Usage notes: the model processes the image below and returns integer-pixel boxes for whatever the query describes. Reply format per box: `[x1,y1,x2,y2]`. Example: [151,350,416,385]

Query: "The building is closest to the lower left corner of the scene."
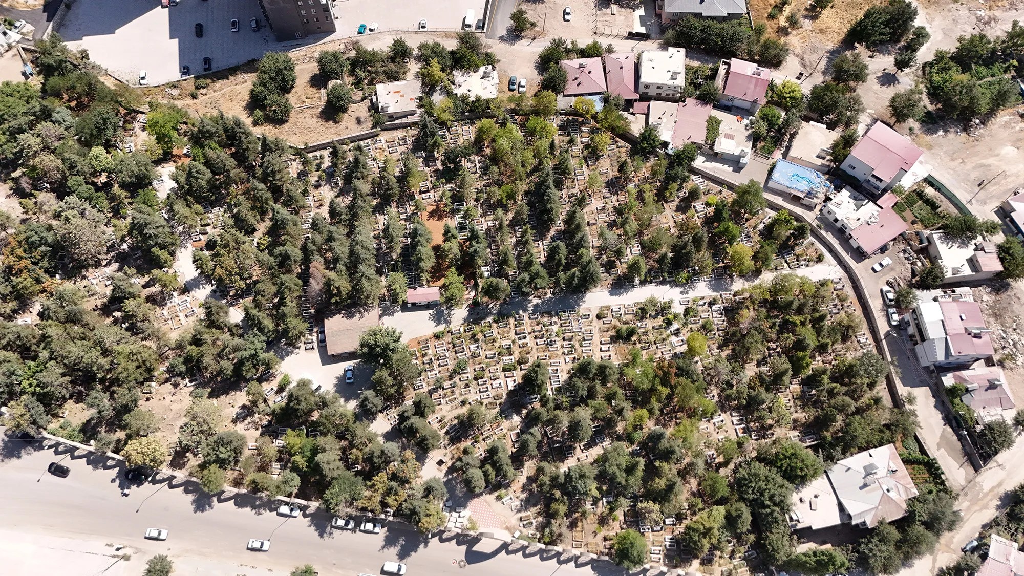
[324,306,380,357]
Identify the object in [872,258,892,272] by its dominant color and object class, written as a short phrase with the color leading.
white car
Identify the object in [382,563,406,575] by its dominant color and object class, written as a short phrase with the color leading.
white vehicle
